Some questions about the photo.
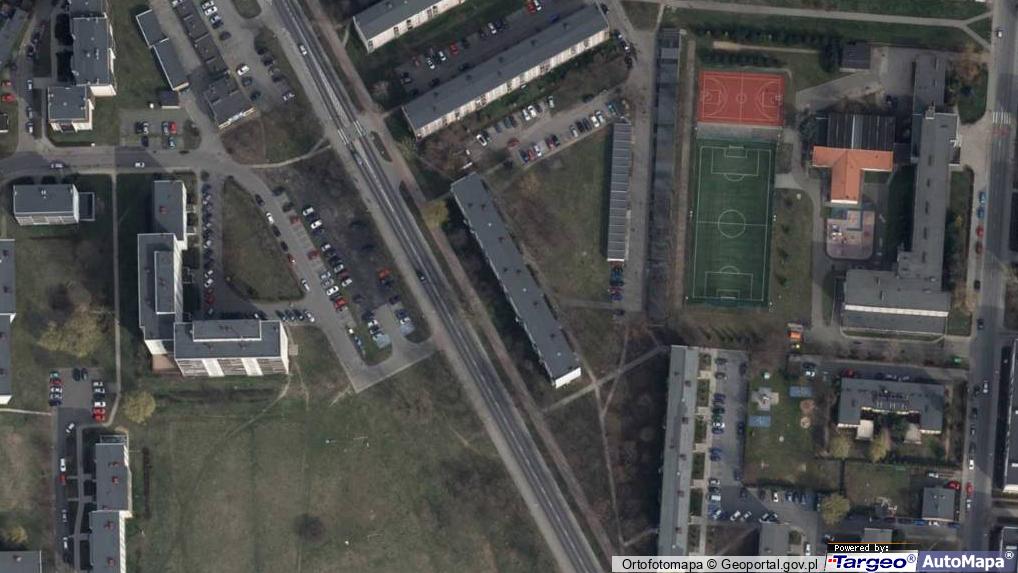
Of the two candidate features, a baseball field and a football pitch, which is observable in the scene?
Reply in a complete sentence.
I can see a football pitch in this picture.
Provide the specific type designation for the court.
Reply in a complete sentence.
I'd identify the court as a basketball court.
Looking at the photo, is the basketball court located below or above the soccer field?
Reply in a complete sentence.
The basketball court is above the soccer field.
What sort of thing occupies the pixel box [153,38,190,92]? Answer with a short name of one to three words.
building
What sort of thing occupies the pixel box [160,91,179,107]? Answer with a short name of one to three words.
shed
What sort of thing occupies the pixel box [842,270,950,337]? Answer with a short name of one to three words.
building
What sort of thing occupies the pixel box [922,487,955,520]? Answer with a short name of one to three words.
house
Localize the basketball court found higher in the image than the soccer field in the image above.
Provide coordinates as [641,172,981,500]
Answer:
[698,71,784,127]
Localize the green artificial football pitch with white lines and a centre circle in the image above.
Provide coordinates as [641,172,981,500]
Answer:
[687,122,783,306]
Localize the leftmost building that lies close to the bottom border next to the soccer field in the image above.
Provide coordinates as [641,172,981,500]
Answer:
[655,346,701,573]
